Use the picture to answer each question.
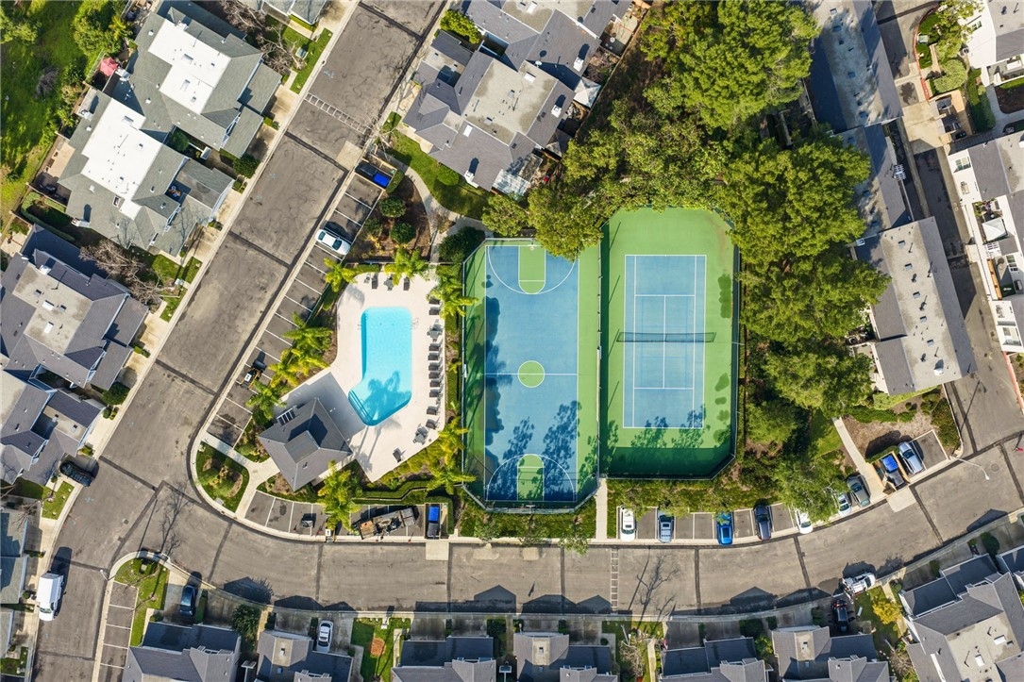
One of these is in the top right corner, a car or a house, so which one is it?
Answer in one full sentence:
The one visible in the top right corner is a house.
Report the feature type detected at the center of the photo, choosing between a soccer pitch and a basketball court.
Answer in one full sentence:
It is a basketball court that can be seen at the center of the photo.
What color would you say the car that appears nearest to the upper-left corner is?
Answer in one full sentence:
In this view, the car that appears nearest to the upper-left corner is white.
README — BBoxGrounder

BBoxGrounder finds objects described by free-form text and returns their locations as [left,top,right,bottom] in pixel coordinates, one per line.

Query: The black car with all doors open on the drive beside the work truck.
[826,596,856,633]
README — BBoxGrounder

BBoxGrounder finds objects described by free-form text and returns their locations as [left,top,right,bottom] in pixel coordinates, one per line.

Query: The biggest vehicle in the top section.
[313,228,353,256]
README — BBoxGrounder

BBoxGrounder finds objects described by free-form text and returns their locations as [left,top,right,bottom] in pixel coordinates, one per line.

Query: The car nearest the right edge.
[894,440,923,476]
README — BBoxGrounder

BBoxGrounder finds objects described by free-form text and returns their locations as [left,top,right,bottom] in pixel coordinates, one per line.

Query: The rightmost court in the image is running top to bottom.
[600,207,730,475]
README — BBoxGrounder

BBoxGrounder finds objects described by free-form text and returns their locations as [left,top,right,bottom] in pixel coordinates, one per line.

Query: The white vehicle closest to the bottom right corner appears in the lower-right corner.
[840,569,877,597]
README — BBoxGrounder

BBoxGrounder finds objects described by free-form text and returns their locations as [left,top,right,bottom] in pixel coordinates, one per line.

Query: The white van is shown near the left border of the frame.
[38,571,67,620]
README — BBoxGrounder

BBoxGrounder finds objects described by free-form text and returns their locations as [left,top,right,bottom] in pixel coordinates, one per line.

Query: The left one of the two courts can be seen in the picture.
[465,240,598,507]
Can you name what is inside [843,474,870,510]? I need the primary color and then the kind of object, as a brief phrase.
gray car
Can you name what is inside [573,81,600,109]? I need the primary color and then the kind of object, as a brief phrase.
white gazebo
